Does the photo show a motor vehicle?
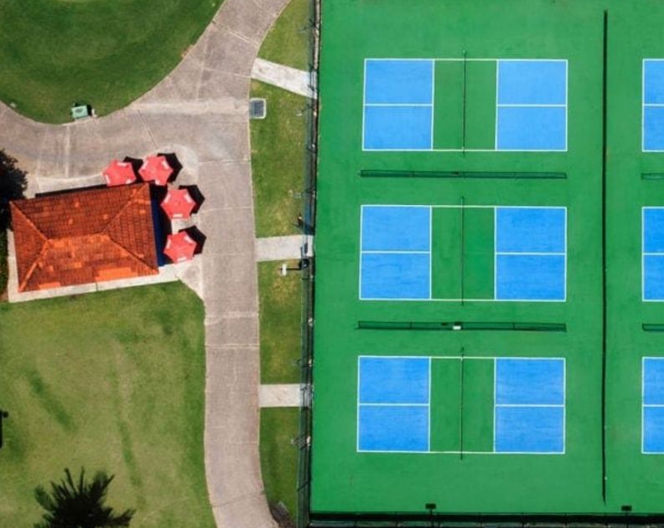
No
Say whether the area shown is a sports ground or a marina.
sports ground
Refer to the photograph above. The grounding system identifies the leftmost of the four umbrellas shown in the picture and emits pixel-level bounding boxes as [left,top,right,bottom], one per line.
[104,156,139,187]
